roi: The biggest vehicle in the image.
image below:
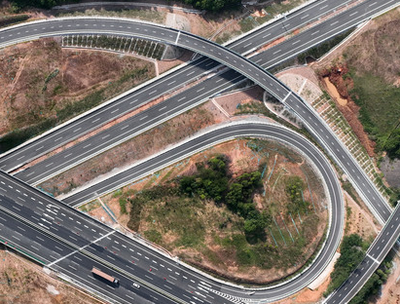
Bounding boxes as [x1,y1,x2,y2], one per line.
[93,269,117,283]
